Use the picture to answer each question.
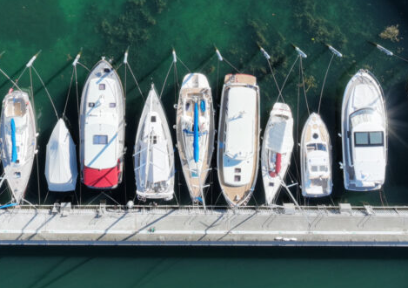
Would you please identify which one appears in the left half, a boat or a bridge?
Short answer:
boat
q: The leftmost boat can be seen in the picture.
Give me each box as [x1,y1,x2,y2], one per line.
[0,67,41,209]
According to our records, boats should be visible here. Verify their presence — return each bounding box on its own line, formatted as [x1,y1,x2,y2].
[336,65,388,205]
[213,61,264,215]
[126,63,176,206]
[295,57,341,197]
[0,67,41,209]
[29,67,79,204]
[173,63,217,214]
[259,58,308,228]
[75,54,129,212]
